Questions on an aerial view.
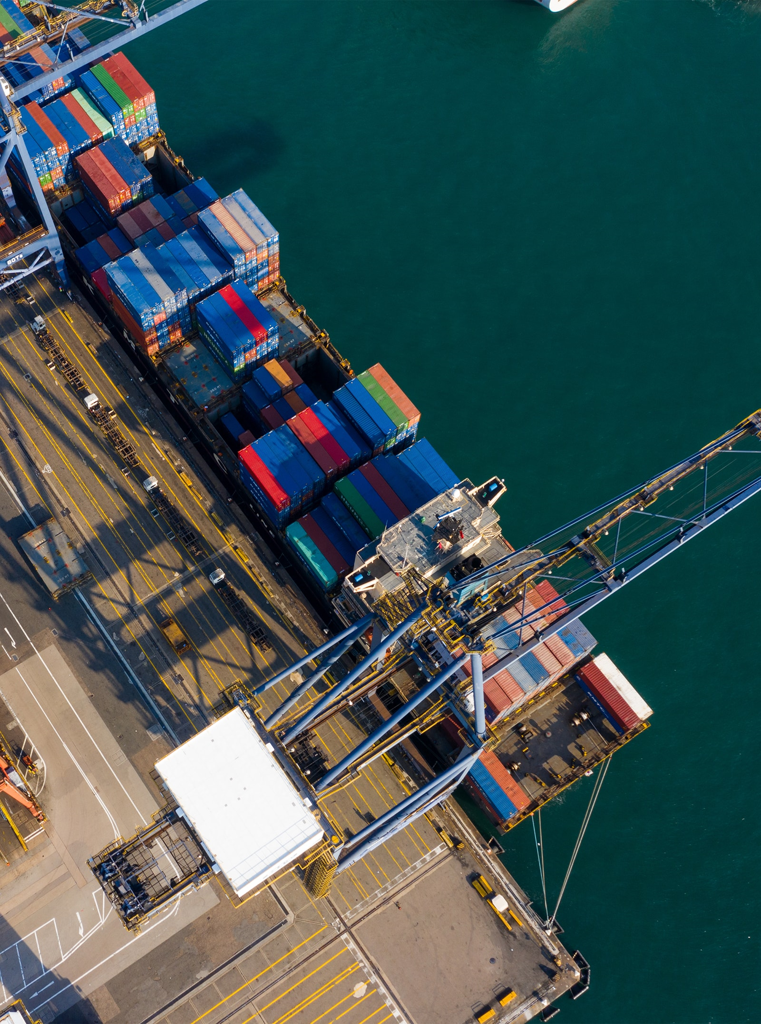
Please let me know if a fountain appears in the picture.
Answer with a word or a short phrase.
No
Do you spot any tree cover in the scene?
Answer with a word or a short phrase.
No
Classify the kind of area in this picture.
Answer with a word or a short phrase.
port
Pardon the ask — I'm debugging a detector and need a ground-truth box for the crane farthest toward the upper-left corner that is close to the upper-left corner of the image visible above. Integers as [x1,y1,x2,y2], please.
[0,0,220,303]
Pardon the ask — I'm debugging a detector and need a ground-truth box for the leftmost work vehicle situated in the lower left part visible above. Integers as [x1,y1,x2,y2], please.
[0,750,45,825]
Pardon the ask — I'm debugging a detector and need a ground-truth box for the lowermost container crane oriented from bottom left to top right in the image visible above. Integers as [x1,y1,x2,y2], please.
[73,406,761,951]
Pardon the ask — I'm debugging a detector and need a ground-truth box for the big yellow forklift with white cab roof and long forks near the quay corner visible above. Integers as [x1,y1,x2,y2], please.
[469,863,524,940]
